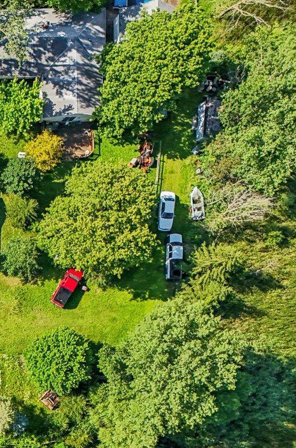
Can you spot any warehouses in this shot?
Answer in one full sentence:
No, the photo shows no warehouse.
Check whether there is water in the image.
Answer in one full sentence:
No, there's no water in this view.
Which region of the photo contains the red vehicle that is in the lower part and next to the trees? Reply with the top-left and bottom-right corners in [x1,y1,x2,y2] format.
[49,271,80,310]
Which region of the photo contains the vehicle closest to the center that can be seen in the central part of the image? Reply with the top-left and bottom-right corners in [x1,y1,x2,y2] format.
[154,192,175,231]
